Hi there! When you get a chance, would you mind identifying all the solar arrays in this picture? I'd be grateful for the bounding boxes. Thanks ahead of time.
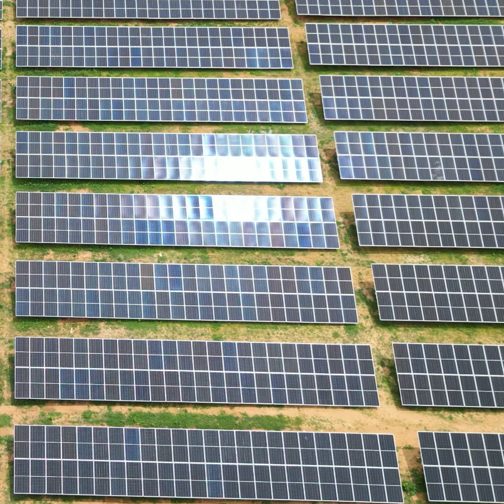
[352,194,504,246]
[319,75,504,121]
[14,337,380,406]
[305,23,504,66]
[13,425,403,503]
[372,264,504,321]
[15,26,294,69]
[334,131,504,179]
[16,0,281,19]
[15,192,339,249]
[418,432,504,502]
[296,0,504,16]
[15,260,358,323]
[15,75,308,122]
[15,131,323,182]
[393,343,504,406]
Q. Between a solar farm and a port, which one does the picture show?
solar farm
